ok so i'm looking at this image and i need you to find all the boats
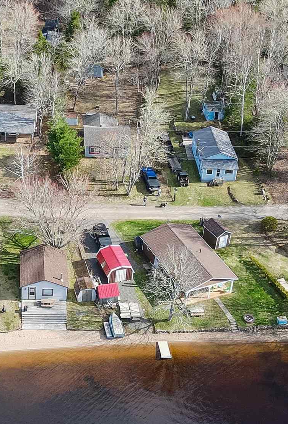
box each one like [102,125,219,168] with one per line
[108,305,126,337]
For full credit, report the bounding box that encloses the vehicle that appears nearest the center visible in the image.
[142,171,162,190]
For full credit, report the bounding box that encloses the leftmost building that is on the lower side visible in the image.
[20,243,69,324]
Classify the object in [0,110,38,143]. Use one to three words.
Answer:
house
